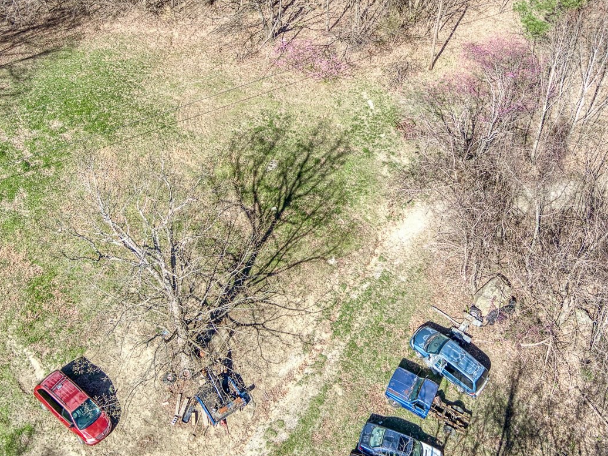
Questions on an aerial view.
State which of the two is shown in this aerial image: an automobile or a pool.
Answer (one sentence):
The one in the frame is an automobile.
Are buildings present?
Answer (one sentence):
No, I can't see a single building in this photo.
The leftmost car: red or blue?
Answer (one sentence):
The leftmost car looks red in the image.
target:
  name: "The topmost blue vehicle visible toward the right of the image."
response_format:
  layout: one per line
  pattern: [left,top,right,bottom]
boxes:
[411,323,492,395]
